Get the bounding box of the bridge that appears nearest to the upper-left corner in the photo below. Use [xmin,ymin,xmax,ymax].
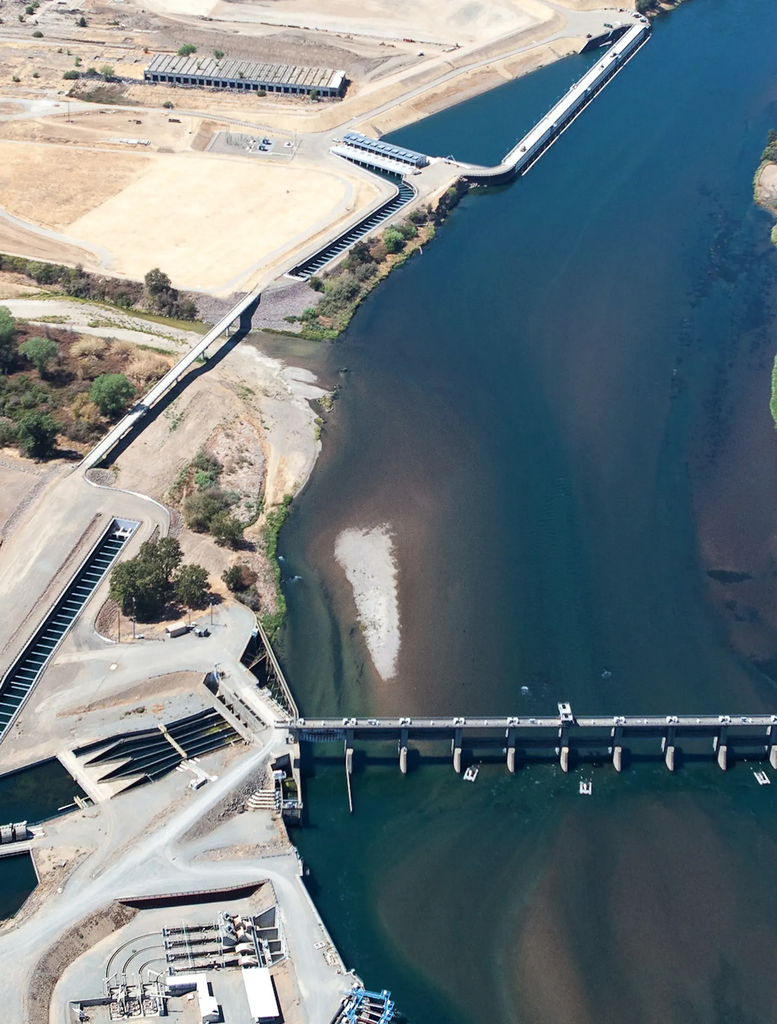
[64,285,262,537]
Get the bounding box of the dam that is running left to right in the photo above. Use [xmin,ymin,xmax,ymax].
[289,713,777,783]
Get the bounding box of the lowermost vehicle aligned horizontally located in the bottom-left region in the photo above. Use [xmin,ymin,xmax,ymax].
[186,777,209,789]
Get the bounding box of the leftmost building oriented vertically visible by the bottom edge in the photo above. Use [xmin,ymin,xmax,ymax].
[242,967,279,1024]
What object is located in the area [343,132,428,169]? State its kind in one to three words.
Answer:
building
